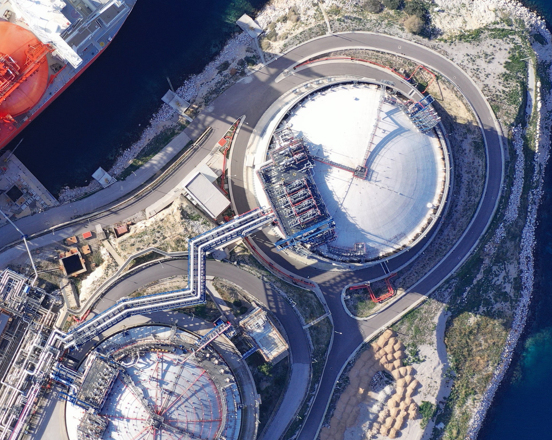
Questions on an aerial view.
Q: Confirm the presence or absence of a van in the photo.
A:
No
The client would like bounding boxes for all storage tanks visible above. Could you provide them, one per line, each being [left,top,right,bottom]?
[61,319,246,440]
[253,77,451,265]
